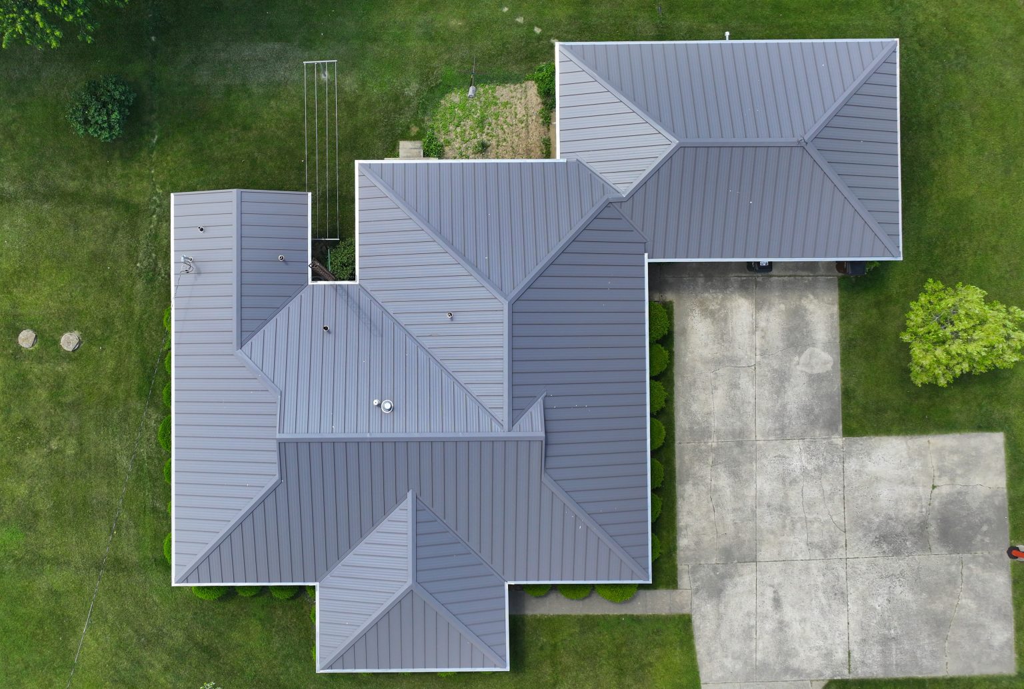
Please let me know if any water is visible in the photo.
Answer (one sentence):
No, there's no water in this view.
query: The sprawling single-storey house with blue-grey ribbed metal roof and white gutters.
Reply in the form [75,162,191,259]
[170,30,901,672]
